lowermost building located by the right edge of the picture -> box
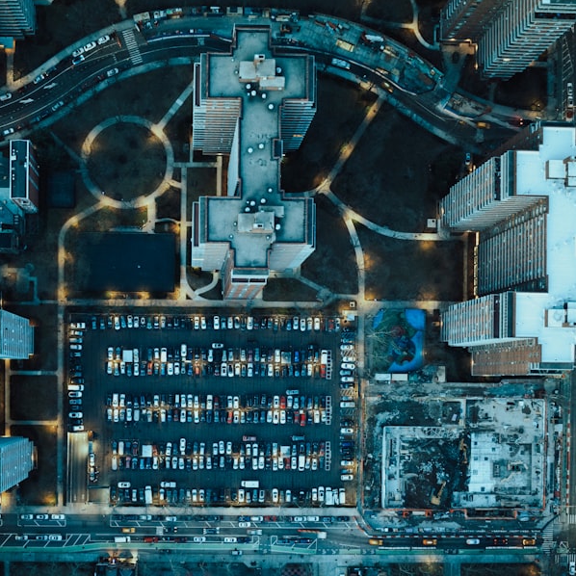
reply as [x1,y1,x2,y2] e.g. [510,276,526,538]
[438,121,576,375]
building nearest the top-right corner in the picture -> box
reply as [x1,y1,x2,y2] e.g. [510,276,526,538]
[441,0,576,78]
